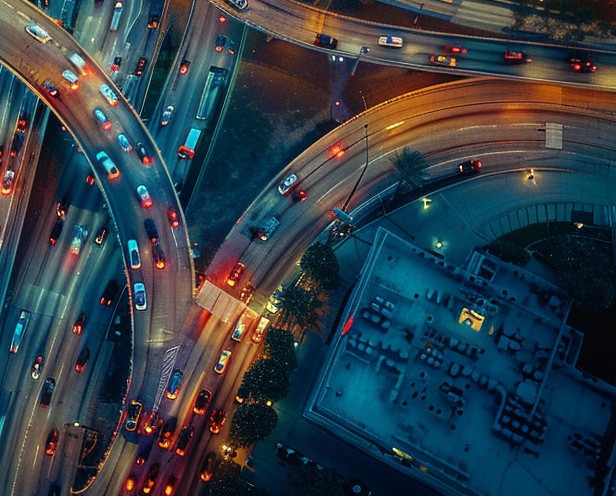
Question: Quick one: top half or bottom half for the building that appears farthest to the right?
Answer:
bottom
